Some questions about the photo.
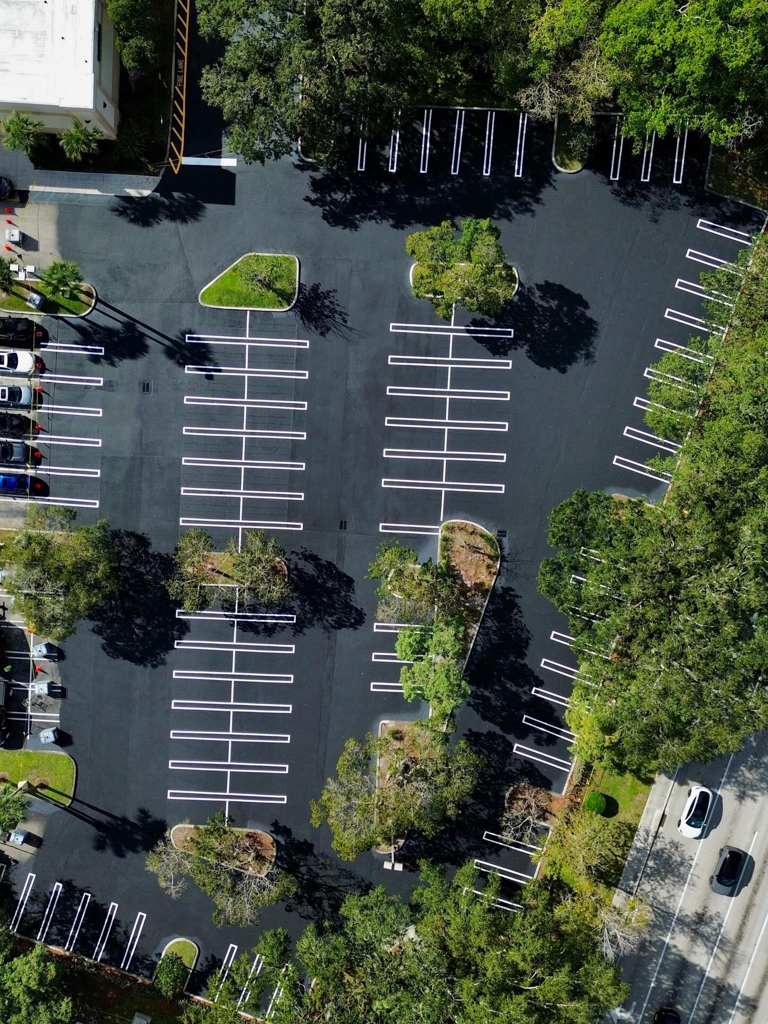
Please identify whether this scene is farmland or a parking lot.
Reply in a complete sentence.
What you see here is a parking lot.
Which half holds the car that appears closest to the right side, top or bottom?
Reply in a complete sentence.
Seen from above, the car that appears closest to the right side lies in the bottom half of the view.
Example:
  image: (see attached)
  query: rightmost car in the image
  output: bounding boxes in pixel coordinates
[709,841,743,896]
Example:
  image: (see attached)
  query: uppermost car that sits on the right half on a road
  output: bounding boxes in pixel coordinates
[676,781,709,835]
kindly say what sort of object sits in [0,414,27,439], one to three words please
car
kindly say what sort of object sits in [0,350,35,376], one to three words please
car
